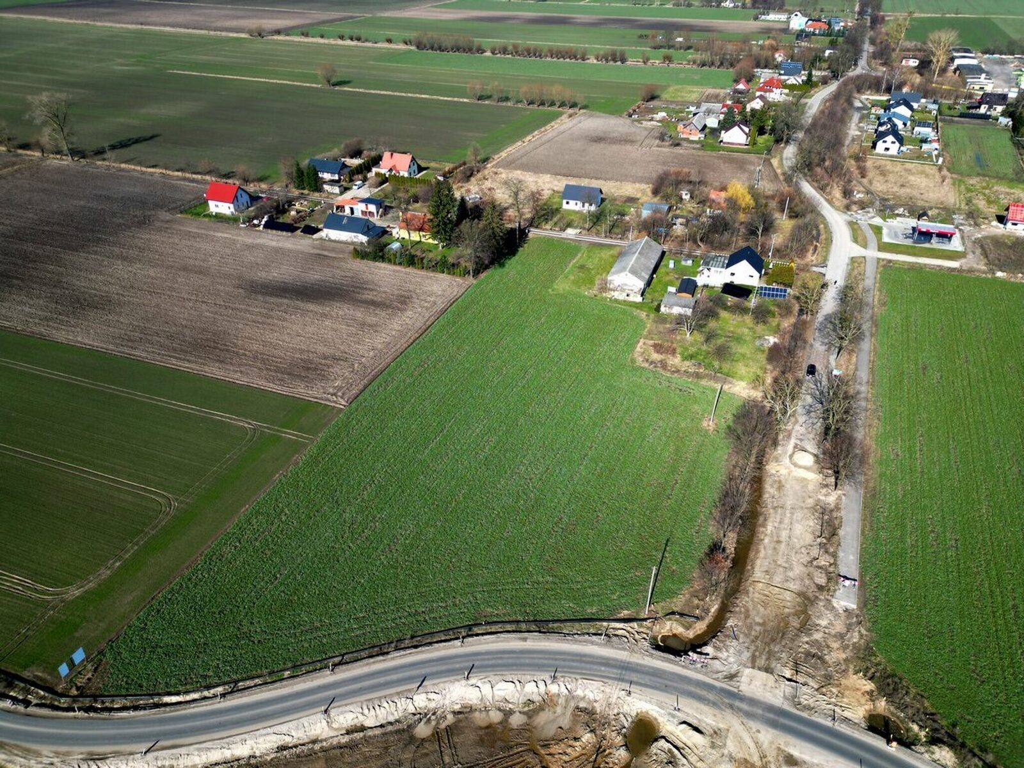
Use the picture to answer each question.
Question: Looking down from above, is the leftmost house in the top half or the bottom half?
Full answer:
It is in the top half that the leftmost house appears.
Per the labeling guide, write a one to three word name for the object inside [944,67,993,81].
building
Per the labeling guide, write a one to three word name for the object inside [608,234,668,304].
barn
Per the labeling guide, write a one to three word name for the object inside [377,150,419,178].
house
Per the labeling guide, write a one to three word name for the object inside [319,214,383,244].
house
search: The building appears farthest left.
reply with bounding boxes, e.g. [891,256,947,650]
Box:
[205,181,260,216]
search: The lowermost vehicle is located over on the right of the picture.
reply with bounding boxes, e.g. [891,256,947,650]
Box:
[806,366,818,380]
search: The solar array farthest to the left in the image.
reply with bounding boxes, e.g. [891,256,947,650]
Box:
[757,288,787,301]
